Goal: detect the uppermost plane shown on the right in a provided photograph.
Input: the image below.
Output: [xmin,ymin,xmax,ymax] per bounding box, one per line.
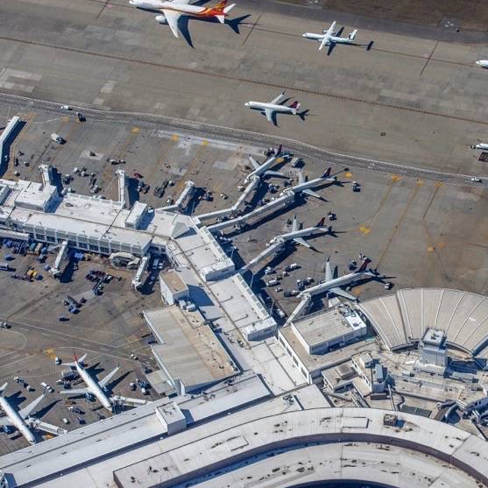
[300,22,355,51]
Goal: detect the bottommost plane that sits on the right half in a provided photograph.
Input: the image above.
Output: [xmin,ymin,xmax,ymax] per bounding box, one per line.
[295,253,382,303]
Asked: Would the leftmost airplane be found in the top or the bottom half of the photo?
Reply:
bottom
